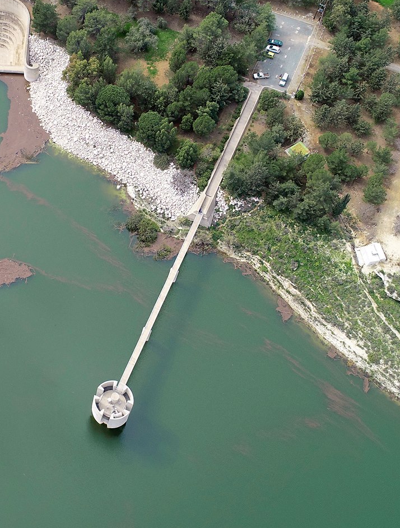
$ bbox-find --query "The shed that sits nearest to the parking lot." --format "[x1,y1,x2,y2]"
[285,141,310,165]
